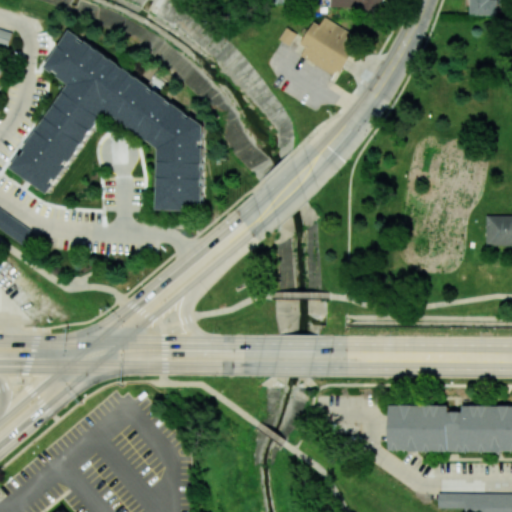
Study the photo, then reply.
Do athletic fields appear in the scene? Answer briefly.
No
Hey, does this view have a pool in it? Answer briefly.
No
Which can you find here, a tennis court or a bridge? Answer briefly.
bridge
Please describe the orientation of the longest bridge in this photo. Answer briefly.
diagonally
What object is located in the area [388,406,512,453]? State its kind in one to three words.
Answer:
building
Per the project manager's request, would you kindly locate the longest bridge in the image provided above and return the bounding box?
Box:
[250,128,331,231]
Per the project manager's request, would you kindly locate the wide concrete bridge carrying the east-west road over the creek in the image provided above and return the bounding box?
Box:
[259,335,334,378]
